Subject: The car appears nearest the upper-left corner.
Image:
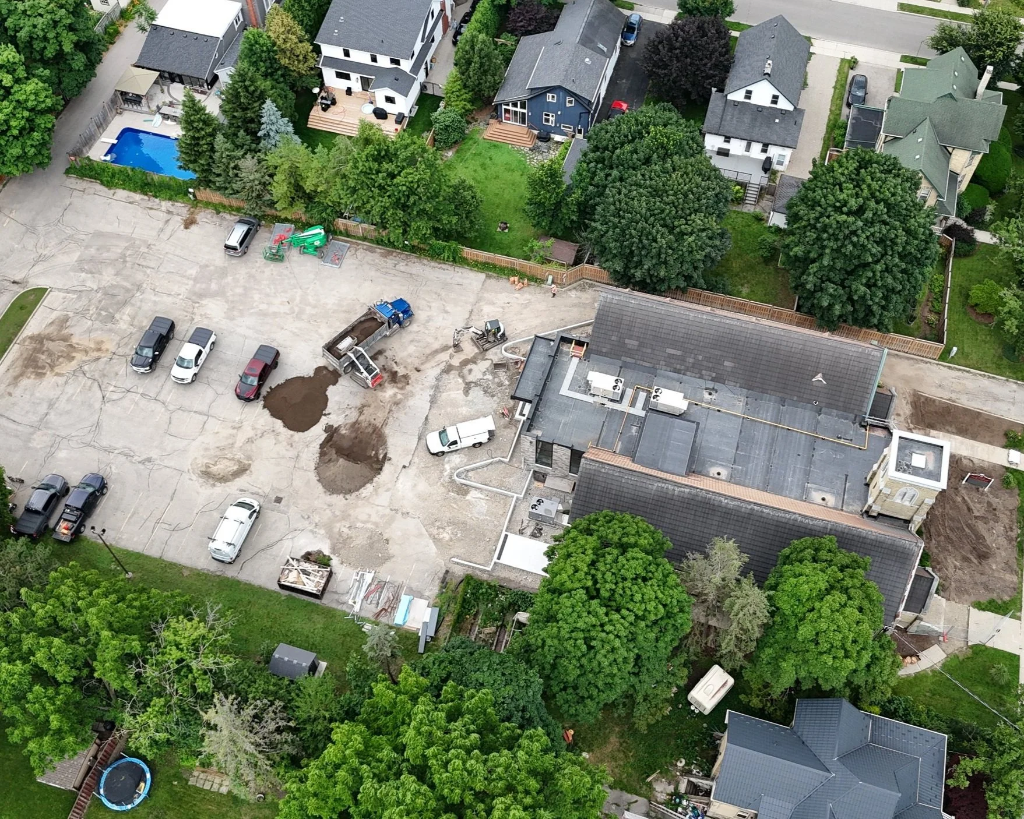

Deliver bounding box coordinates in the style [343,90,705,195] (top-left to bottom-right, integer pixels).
[222,213,262,257]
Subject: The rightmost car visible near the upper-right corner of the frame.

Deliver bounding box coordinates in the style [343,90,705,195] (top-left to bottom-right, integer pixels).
[847,68,871,103]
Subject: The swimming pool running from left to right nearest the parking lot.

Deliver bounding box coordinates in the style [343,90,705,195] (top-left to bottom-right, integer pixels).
[98,126,197,184]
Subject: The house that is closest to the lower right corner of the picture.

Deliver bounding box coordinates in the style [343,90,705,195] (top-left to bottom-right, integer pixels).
[710,695,948,819]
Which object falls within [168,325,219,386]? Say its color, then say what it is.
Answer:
white truck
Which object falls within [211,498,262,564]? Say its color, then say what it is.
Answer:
white van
